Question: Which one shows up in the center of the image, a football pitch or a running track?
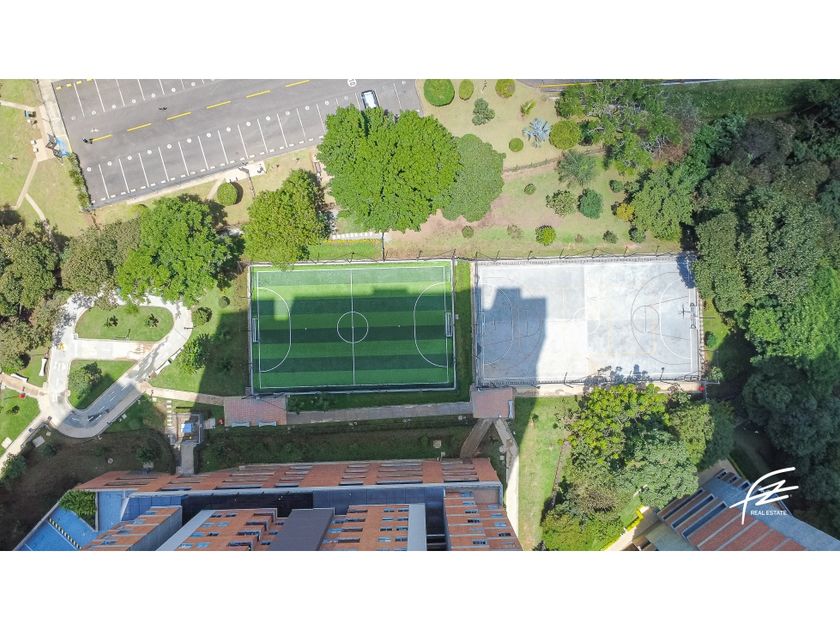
football pitch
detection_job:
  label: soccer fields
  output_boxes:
[249,259,458,393]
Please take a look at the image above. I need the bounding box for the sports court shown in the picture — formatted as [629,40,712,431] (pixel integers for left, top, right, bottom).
[473,253,701,388]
